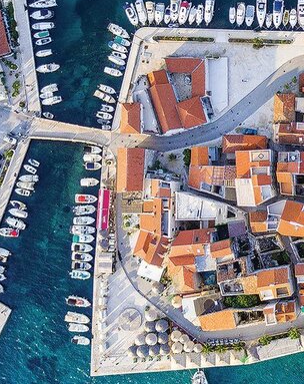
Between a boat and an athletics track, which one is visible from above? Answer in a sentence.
The image shows a boat.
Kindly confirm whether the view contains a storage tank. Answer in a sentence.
No, no storage tank can be seen from above.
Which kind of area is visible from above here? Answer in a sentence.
It's a residential area.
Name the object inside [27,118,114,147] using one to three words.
bridge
